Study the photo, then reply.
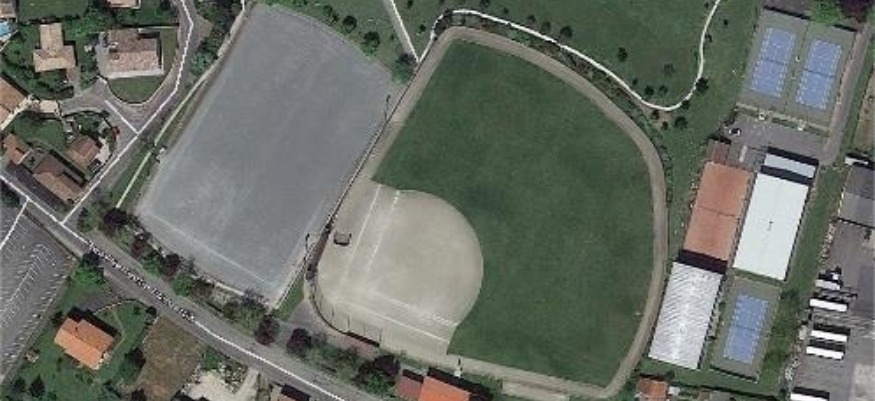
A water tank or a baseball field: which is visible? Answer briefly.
baseball field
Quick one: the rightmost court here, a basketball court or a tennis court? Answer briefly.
tennis court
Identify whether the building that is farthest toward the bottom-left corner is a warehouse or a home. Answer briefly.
home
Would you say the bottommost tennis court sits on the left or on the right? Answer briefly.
right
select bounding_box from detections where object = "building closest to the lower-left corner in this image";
[53,317,115,369]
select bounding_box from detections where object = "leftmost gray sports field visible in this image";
[132,4,405,309]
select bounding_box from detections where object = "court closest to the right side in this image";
[785,20,857,133]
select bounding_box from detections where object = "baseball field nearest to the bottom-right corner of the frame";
[308,25,668,399]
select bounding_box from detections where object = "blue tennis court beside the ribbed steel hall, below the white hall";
[712,275,781,380]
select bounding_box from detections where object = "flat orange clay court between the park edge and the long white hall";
[681,159,755,274]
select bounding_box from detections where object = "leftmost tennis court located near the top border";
[735,6,809,118]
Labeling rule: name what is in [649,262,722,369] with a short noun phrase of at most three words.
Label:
building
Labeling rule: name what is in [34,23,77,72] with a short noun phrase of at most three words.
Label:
house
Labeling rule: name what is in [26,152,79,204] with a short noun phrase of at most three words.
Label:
house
